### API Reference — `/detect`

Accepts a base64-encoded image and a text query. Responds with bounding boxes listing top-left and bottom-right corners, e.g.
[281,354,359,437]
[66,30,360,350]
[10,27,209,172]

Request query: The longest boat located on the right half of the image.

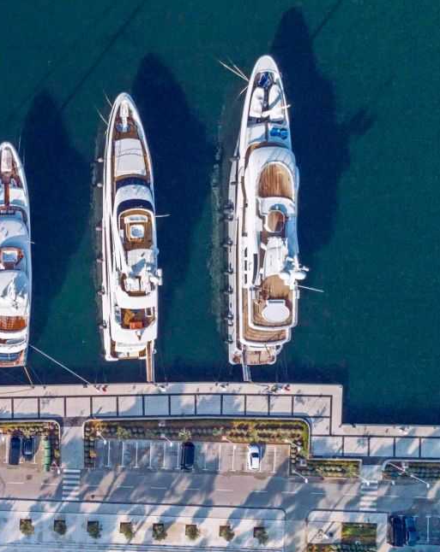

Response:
[219,54,323,383]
